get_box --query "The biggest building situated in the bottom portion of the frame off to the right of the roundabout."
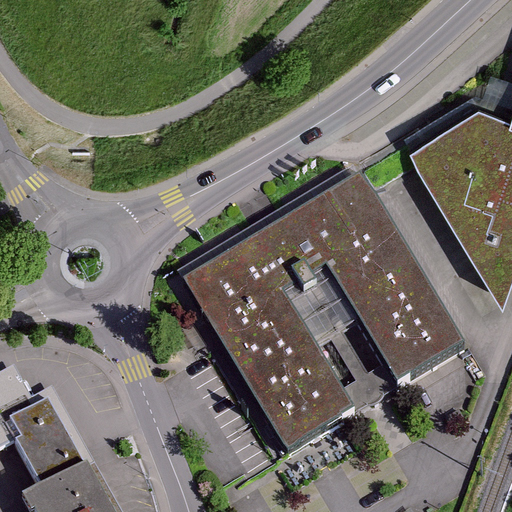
[178,170,465,458]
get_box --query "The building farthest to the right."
[400,102,512,316]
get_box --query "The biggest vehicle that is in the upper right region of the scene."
[376,74,401,94]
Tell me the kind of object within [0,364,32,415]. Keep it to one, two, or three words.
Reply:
building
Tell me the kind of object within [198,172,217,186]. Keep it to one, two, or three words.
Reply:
car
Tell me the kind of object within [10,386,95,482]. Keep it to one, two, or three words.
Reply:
building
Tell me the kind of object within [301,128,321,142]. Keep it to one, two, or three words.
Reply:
car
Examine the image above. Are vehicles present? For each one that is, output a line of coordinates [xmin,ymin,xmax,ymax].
[214,398,234,413]
[188,359,210,374]
[461,346,484,378]
[360,490,382,506]
[376,74,401,94]
[301,128,321,142]
[419,390,434,410]
[198,172,217,186]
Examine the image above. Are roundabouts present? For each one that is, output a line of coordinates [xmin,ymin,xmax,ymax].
[38,218,132,310]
